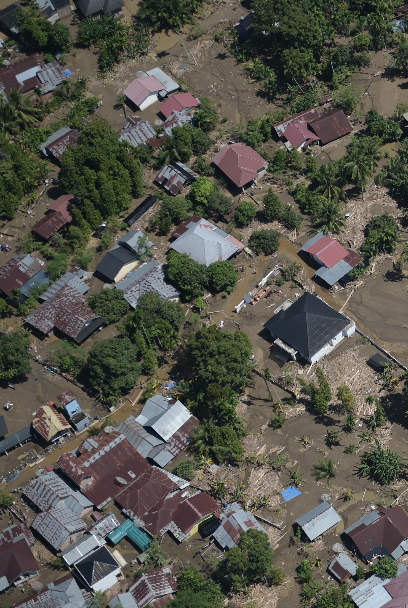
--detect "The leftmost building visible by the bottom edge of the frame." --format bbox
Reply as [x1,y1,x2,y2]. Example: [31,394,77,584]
[0,519,41,595]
